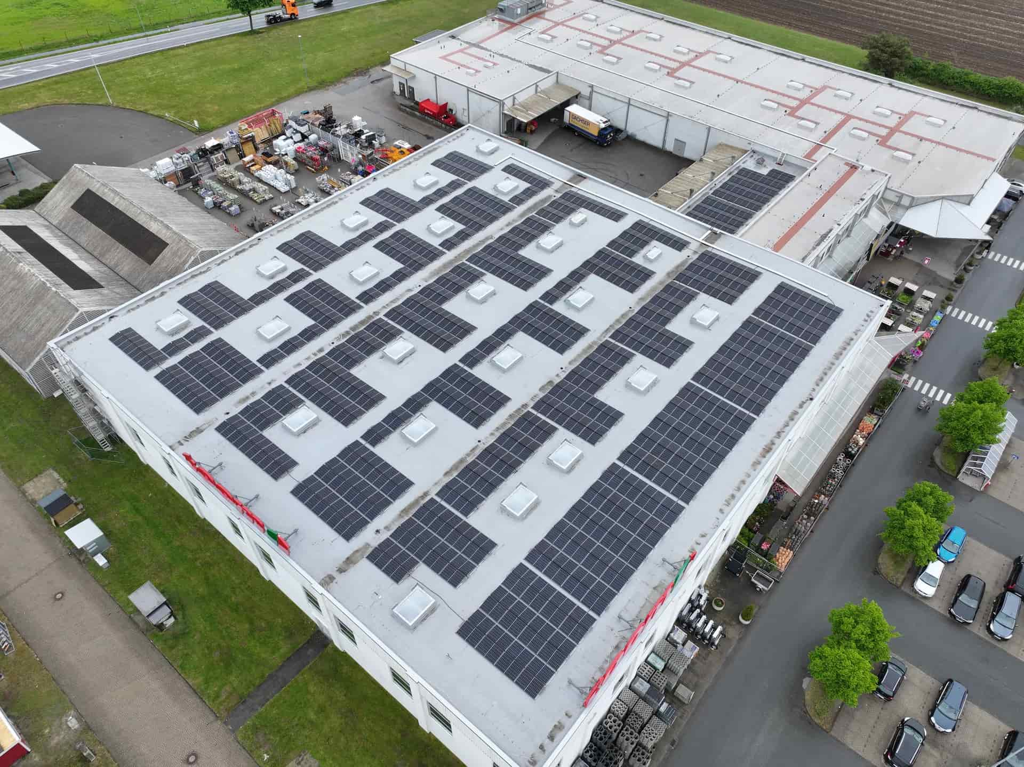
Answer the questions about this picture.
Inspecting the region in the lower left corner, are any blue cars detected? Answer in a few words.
No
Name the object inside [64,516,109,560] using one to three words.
shed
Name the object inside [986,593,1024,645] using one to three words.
car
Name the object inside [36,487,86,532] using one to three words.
shed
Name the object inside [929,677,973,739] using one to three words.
car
